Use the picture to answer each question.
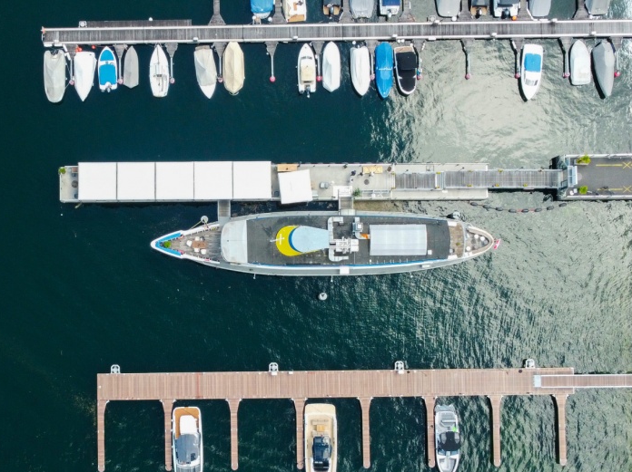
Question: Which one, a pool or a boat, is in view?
boat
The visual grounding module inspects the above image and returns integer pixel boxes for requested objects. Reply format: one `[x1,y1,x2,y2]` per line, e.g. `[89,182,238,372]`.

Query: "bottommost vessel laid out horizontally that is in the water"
[151,212,497,282]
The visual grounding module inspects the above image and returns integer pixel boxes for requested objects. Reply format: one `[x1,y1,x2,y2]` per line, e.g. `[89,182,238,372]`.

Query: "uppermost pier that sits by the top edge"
[43,0,632,81]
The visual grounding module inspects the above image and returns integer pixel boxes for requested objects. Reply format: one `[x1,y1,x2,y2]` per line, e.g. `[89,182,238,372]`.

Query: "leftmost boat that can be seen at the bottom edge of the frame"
[170,401,204,472]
